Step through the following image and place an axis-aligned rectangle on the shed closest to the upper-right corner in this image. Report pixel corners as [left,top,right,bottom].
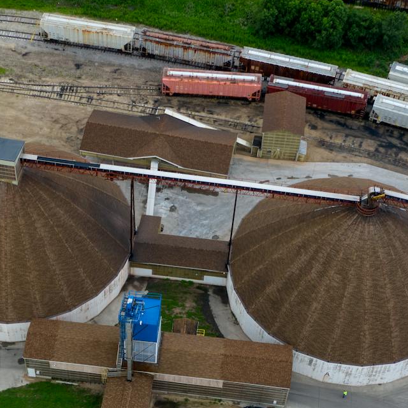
[230,93,311,158]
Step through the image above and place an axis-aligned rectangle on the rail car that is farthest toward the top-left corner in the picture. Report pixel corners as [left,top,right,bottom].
[39,13,139,49]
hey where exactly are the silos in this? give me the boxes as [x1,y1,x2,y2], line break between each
[227,176,408,385]
[0,141,133,342]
